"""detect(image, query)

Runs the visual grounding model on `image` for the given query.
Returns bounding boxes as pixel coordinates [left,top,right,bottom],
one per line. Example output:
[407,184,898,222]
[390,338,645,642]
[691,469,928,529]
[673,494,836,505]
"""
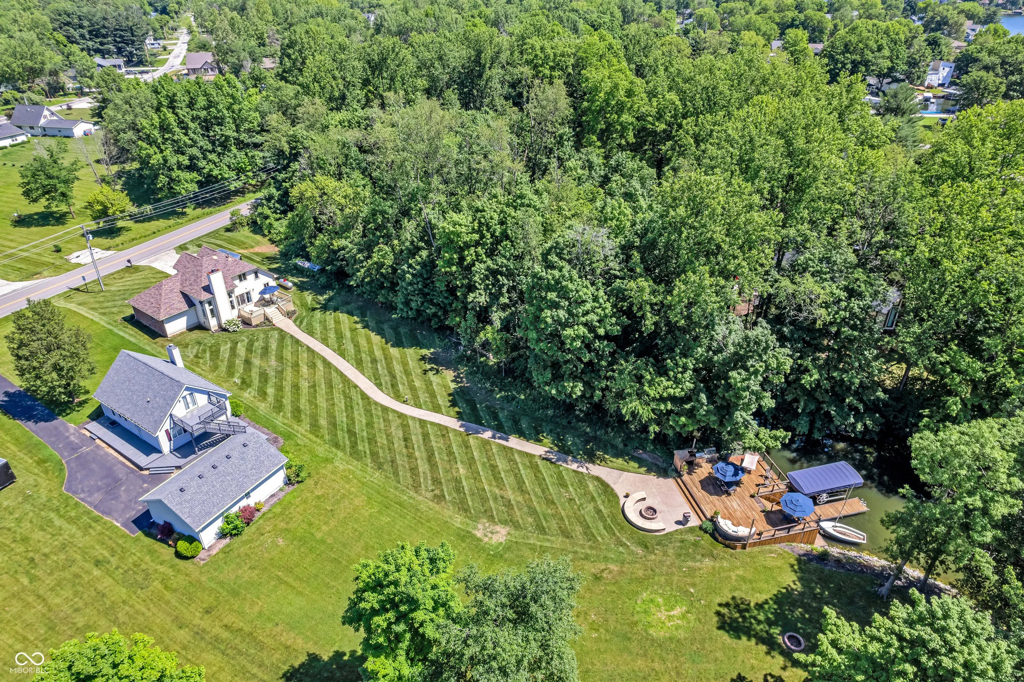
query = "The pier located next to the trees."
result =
[812,497,870,522]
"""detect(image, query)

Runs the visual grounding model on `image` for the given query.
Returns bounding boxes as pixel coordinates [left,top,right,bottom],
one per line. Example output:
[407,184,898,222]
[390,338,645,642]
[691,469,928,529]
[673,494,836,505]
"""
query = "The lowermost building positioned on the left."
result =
[139,431,291,552]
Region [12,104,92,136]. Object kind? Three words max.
house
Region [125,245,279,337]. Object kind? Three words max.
house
